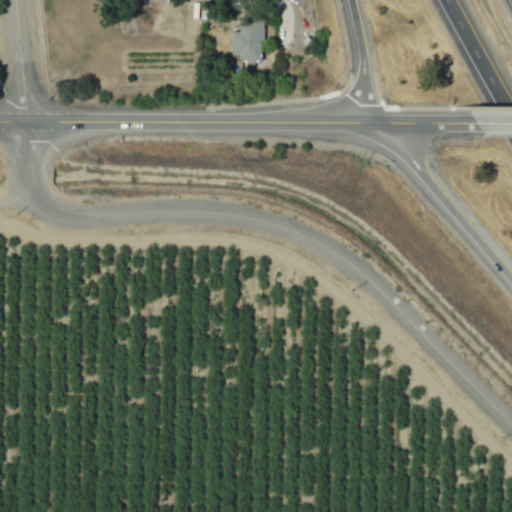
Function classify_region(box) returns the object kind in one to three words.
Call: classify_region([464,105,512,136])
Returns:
bridge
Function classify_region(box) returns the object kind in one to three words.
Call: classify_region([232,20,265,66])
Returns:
house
